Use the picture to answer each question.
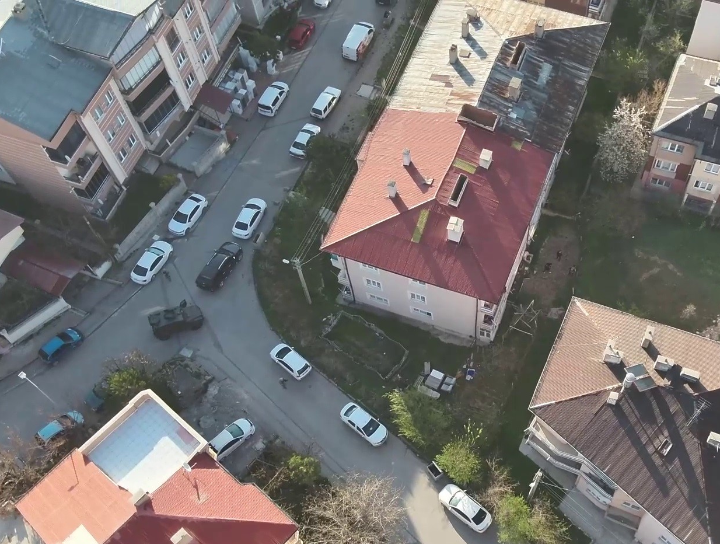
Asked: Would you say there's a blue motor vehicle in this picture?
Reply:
Yes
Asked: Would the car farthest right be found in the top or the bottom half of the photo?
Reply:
bottom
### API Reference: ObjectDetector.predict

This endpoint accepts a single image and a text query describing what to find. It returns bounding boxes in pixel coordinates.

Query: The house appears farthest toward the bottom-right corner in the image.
[523,288,720,544]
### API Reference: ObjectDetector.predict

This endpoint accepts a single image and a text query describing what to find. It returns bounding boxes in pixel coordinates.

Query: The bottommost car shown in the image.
[438,485,493,535]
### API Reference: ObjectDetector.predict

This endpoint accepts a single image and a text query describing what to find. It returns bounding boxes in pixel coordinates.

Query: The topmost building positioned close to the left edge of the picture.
[0,0,259,225]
